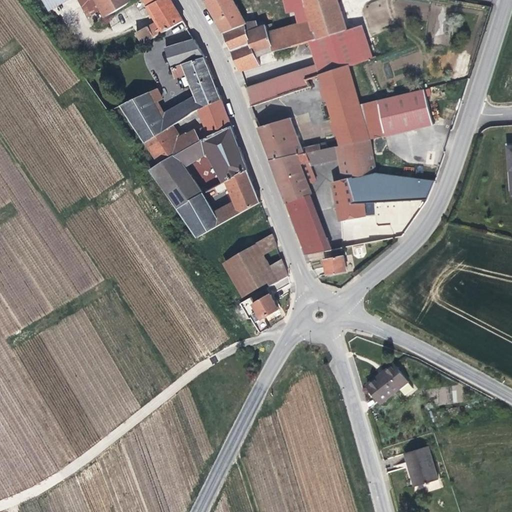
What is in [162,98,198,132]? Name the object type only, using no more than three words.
shed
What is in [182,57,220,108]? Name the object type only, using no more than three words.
building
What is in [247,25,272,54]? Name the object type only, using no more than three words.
house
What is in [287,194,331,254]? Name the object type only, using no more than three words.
barn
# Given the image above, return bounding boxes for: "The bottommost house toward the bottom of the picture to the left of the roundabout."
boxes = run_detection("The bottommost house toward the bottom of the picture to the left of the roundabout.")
[251,294,278,321]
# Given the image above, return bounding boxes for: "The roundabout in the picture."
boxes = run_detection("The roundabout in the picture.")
[276,270,386,361]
